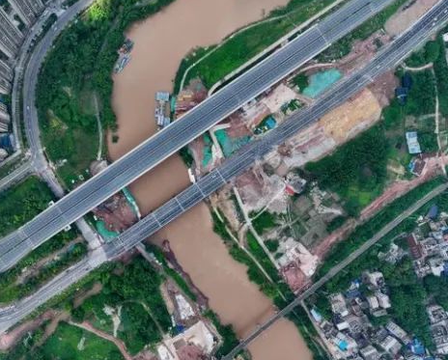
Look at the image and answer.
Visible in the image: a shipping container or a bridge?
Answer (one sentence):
This aerial view contains a bridge.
